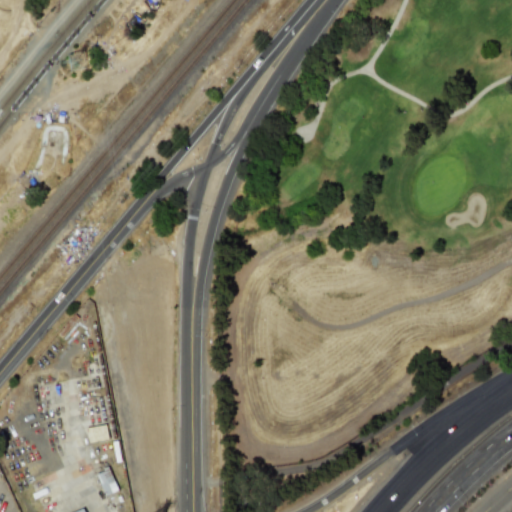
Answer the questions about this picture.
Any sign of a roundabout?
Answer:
No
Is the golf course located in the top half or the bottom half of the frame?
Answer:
top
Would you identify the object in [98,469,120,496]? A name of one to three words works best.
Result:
shed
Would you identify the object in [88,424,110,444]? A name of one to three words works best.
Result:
building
